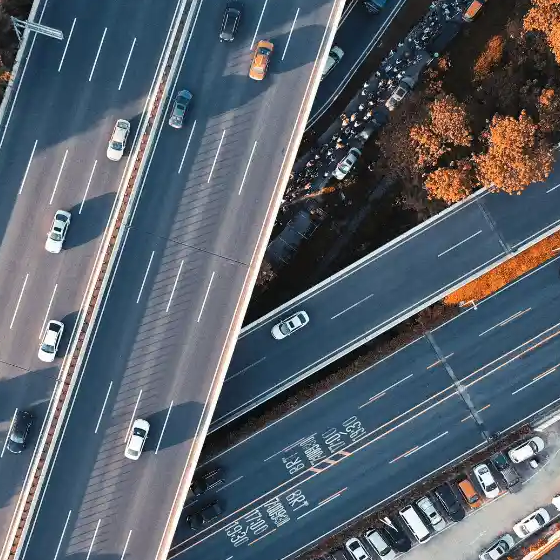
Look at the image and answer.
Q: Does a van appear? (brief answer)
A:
Yes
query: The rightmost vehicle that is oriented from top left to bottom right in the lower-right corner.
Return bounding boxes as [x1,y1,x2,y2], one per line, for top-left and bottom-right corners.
[489,447,525,492]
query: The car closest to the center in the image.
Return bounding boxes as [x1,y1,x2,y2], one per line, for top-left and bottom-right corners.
[271,310,308,340]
